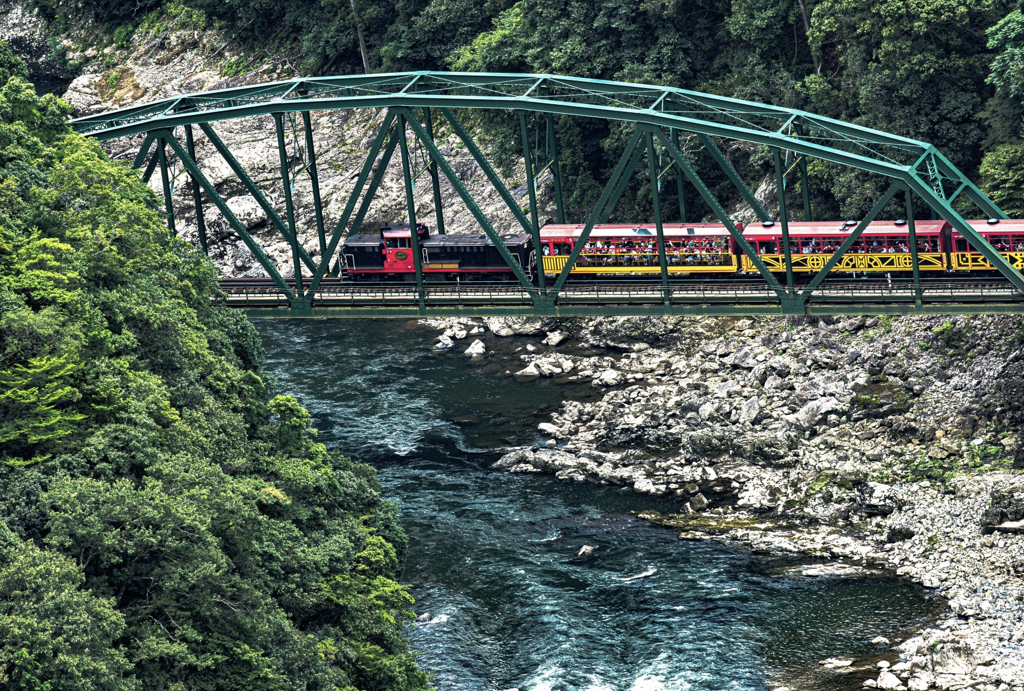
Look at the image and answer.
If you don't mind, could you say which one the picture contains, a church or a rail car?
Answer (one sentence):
The image shows a rail car.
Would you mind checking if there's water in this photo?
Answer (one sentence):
Yes, there is water in the image.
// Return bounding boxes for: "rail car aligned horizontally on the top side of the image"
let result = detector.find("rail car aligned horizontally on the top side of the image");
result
[342,218,536,283]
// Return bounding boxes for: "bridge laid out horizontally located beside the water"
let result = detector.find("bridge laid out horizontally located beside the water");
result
[74,74,1024,318]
